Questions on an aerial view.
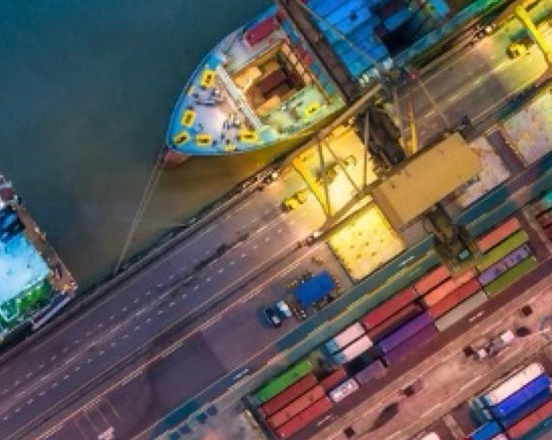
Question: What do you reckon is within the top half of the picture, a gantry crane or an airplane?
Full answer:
There is a gantry crane within the top half of the picture.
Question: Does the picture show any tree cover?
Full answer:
No, tree cover can't be seen anywhere here.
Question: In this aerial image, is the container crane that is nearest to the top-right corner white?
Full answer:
No, the container crane that is nearest to the top-right corner is yellow.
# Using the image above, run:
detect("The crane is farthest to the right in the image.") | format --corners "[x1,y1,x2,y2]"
[476,0,552,99]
